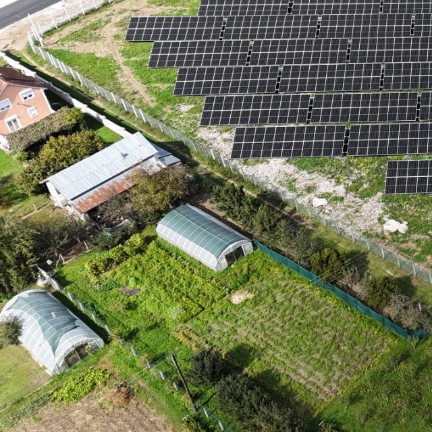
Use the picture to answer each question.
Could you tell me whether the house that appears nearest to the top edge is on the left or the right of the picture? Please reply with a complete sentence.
The house that appears nearest to the top edge appears in the left half of the scene.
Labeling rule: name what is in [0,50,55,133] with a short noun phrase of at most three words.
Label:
house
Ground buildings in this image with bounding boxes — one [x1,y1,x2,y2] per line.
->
[154,195,253,272]
[38,131,191,227]
[0,50,55,133]
[0,280,103,376]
